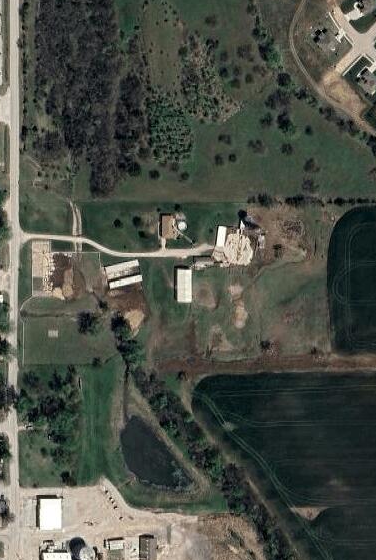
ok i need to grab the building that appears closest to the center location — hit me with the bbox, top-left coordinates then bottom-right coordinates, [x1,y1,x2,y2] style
[178,270,193,302]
